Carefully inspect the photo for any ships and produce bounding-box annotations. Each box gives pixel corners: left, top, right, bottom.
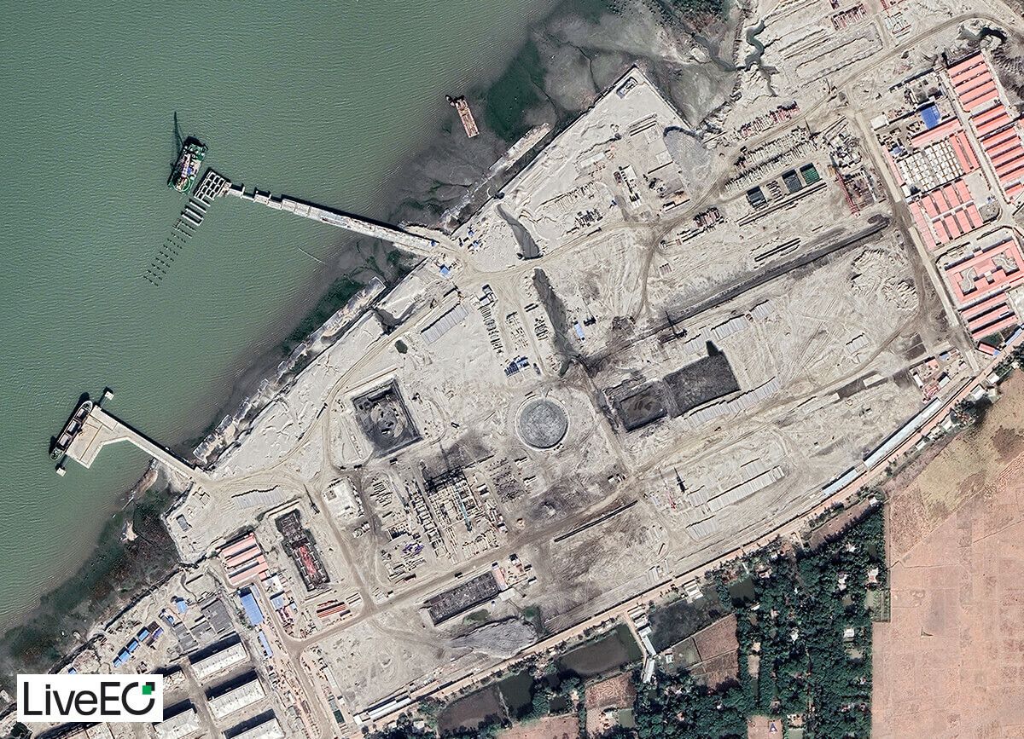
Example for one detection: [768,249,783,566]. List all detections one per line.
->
[49,400,92,460]
[169,142,208,192]
[456,97,478,136]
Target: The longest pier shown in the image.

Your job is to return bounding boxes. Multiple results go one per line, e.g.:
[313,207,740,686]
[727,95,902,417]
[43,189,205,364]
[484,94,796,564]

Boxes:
[228,185,438,252]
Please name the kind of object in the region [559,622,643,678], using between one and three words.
pond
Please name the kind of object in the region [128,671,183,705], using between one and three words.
building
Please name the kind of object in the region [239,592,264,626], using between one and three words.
building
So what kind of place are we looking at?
port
